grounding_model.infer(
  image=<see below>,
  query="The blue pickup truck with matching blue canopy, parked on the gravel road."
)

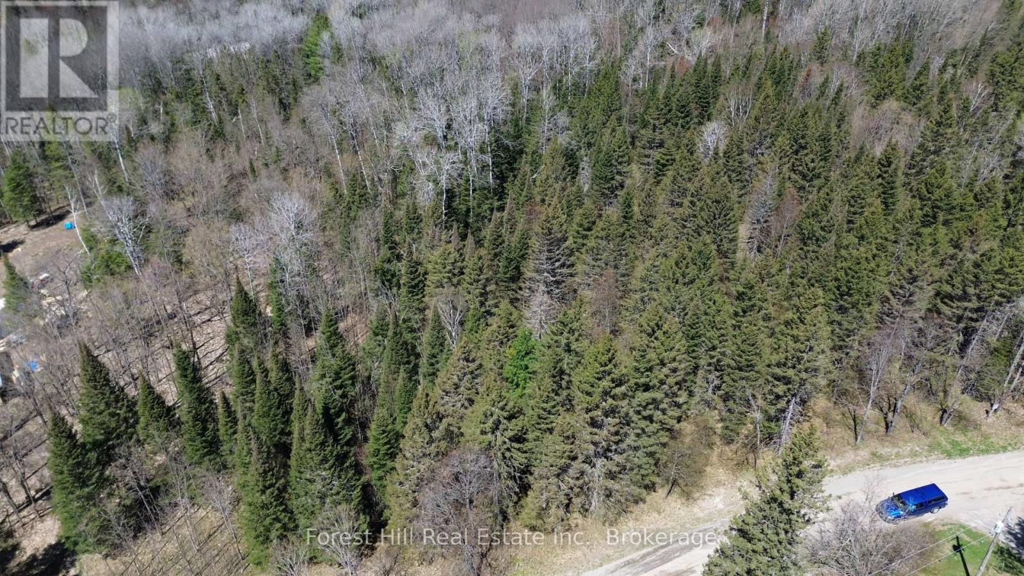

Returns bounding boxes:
[877,482,949,523]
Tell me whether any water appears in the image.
No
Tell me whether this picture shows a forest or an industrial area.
forest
